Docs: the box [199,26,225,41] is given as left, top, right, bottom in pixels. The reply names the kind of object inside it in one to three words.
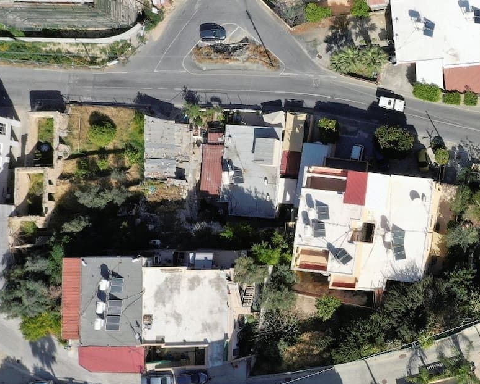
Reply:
car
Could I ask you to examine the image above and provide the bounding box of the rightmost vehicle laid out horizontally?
[377,94,406,110]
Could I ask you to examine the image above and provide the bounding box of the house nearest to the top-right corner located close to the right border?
[392,0,480,89]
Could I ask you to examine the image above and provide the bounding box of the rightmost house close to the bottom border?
[143,266,251,370]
